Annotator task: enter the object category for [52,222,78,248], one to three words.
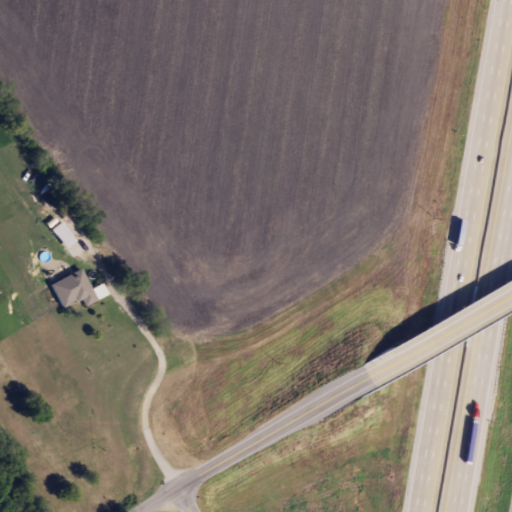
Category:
barn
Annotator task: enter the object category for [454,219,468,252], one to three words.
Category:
vehicle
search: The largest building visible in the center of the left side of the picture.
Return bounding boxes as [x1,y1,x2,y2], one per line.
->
[52,268,100,308]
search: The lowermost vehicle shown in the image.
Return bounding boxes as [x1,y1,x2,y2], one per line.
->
[464,406,480,464]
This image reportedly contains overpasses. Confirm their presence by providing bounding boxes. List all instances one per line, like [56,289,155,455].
[356,281,512,392]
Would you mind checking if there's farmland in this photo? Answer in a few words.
Yes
